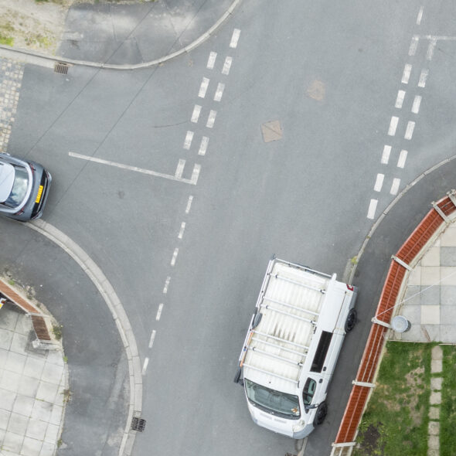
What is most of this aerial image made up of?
paved ground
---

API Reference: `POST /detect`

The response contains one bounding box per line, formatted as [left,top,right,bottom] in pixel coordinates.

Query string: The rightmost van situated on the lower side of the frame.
[241,260,360,439]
